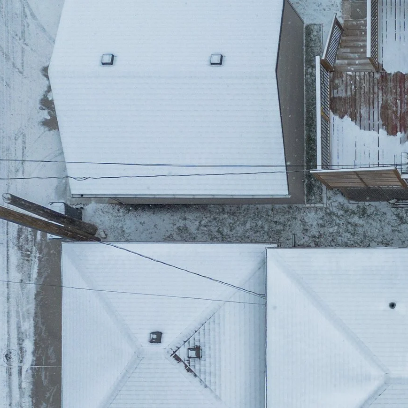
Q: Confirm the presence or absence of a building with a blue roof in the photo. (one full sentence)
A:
No, no building with a blue roof can be seen from above.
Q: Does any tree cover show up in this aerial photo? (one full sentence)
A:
No, tree cover can't be seen anywhere here.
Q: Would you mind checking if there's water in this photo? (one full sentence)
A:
No, there's no water in this view.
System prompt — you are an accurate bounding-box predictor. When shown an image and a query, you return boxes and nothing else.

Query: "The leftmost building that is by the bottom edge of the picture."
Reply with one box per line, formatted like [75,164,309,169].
[65,246,277,408]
